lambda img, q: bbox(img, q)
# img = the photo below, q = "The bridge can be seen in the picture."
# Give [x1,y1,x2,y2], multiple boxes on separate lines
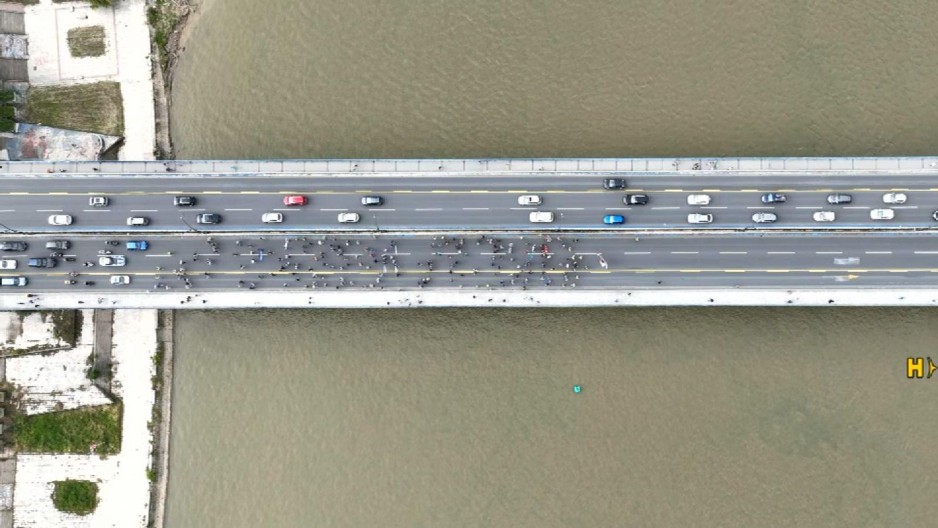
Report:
[0,156,938,310]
